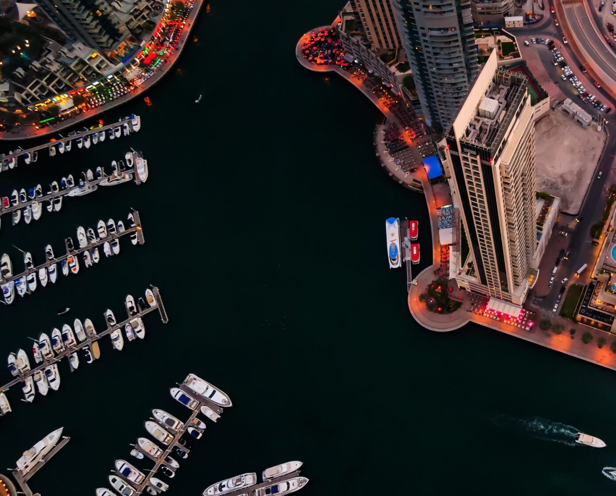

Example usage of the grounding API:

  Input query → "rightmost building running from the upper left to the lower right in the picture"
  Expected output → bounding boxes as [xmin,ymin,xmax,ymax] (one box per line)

[563,97,594,127]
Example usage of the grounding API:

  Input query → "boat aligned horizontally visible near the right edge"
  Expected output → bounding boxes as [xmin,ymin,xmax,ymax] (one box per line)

[575,434,605,446]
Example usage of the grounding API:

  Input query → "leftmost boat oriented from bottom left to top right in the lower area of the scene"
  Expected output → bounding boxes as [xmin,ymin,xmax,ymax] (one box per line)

[13,426,63,474]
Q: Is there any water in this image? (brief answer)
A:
Yes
